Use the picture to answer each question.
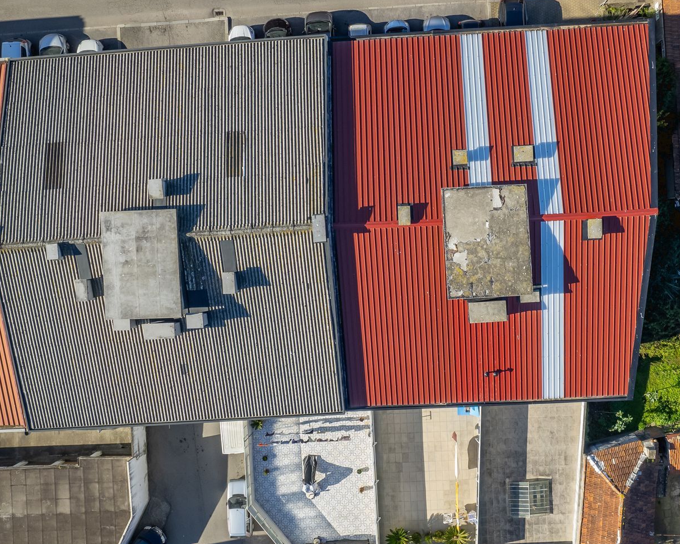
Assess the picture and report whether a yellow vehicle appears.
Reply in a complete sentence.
No, there appears to be no yellow vehicle in this shot.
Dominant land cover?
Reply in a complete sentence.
The largest share of the image is taken up by buildings.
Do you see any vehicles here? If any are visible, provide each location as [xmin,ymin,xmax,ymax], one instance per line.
[226,22,254,39]
[298,6,334,33]
[30,33,68,55]
[0,37,29,60]
[424,14,450,29]
[257,14,291,36]
[75,38,103,51]
[349,19,371,34]
[384,13,409,32]
[498,0,528,25]
[222,482,250,544]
